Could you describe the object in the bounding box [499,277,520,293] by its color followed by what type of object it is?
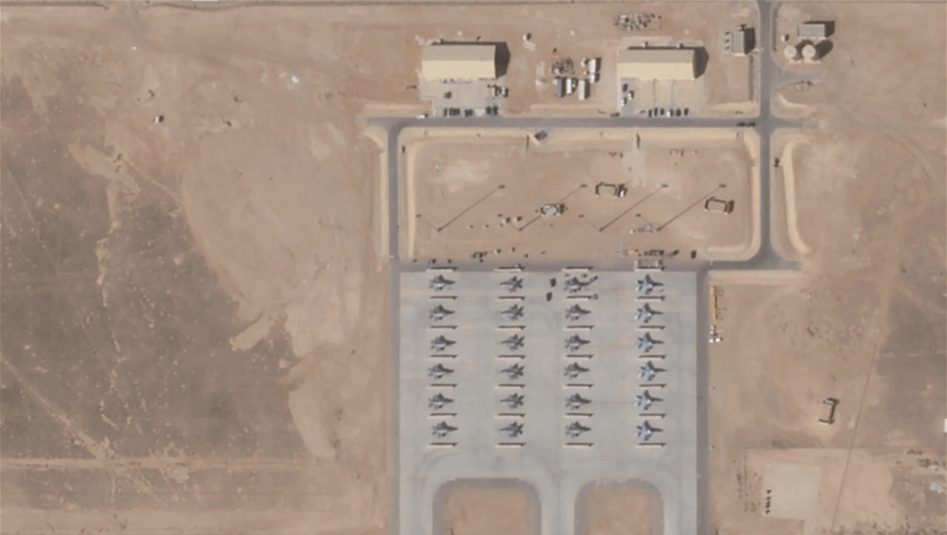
gray airplane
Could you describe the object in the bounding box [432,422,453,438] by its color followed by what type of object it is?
gray airplane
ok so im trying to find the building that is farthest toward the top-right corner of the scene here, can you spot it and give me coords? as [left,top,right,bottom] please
[799,24,828,42]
